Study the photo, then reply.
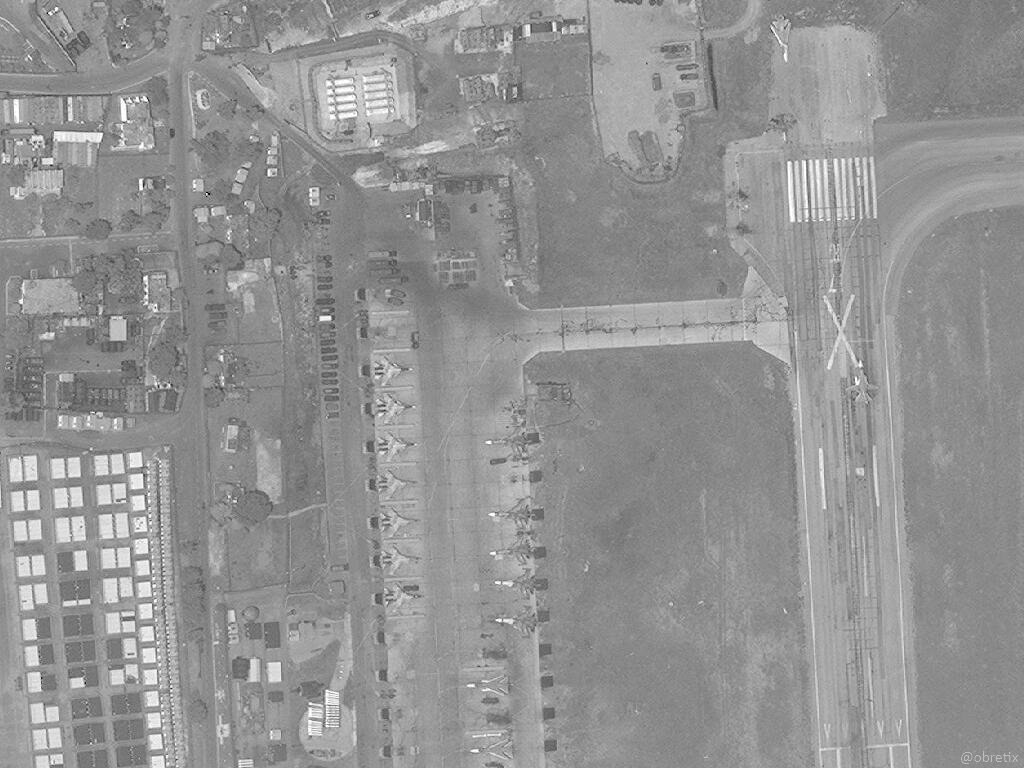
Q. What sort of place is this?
airport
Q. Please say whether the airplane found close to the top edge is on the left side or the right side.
right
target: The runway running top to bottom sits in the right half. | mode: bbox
[724,24,921,768]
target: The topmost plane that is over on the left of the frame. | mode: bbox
[372,356,412,384]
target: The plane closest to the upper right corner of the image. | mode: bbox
[771,16,792,59]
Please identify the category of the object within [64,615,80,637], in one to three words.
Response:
building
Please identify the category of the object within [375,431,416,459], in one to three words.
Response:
airplane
